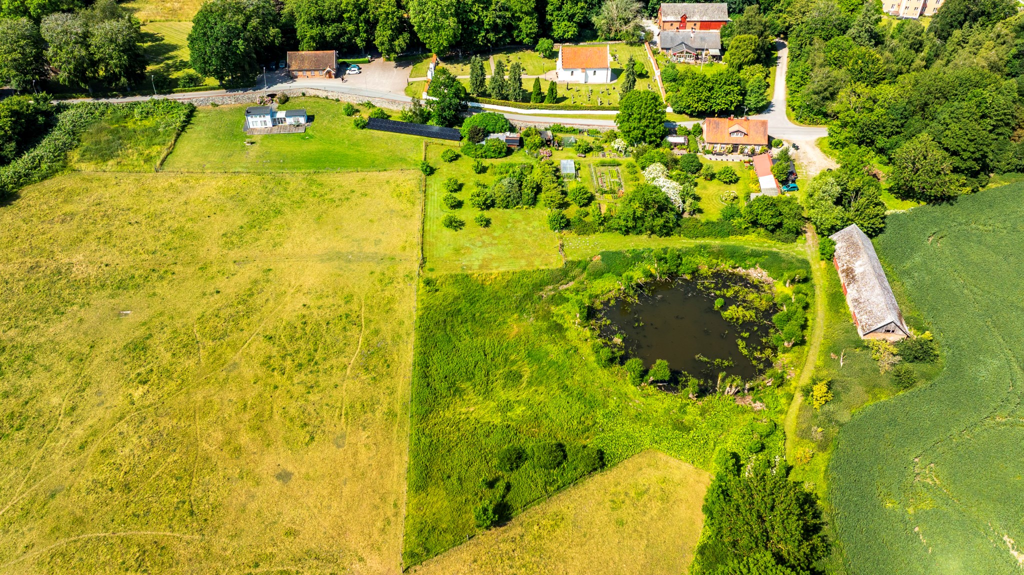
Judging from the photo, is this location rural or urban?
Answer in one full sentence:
This place is rural.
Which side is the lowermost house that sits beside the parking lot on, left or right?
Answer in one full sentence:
The lowermost house that sits beside the parking lot appears in the left half of the scene.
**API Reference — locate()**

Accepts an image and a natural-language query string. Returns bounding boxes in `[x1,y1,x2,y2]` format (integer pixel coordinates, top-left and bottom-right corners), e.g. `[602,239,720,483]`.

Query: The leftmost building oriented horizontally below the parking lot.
[245,104,307,127]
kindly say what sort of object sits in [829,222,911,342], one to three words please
barn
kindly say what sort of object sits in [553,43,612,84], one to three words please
building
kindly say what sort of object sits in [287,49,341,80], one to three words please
building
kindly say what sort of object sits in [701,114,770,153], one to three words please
house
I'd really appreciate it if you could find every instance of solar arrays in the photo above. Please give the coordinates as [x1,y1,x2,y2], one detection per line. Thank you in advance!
[365,115,464,142]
